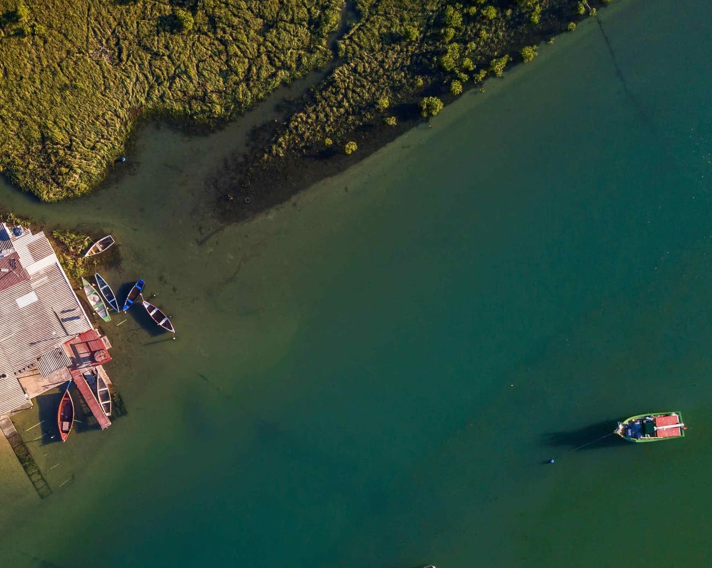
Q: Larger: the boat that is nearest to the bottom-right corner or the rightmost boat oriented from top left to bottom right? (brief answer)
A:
the boat that is nearest to the bottom-right corner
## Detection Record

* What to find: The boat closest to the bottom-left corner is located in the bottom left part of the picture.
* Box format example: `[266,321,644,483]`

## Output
[58,390,74,440]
